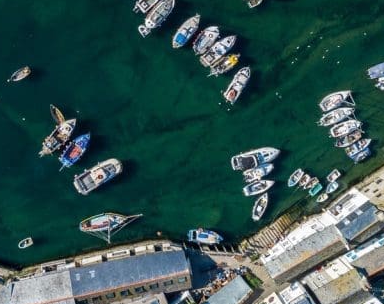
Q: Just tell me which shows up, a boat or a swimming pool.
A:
boat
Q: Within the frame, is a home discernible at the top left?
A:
No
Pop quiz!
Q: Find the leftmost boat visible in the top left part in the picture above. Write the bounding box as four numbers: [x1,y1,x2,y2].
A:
[6,69,30,83]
